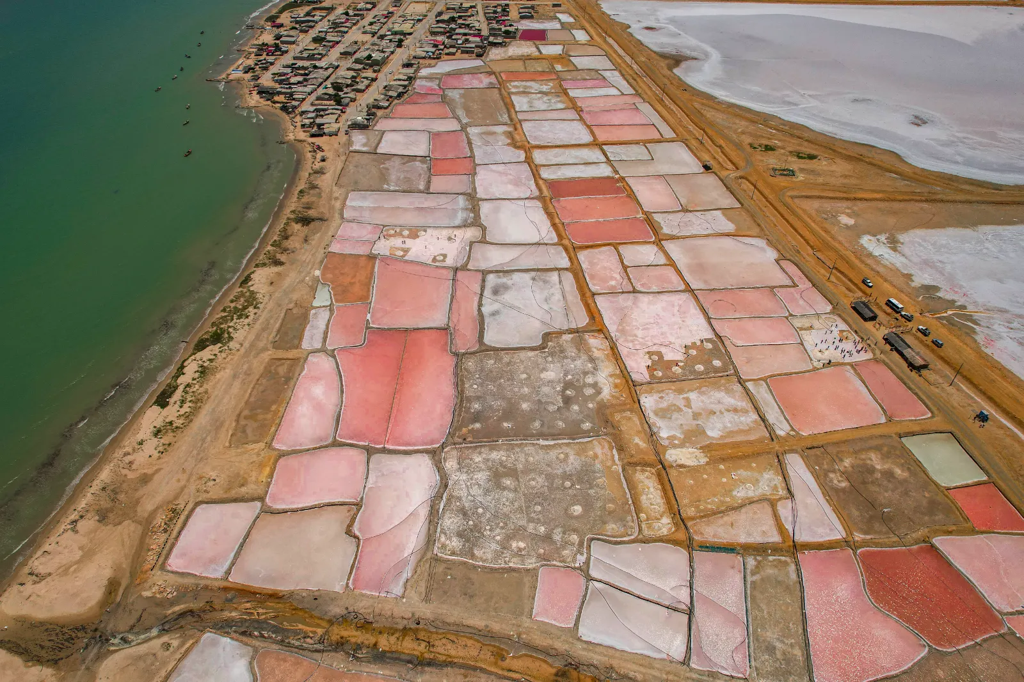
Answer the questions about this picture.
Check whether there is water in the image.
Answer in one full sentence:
Yes, the picture does contain water.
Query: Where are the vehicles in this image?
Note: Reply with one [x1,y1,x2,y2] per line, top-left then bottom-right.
[886,299,906,314]
[917,326,933,337]
[862,279,874,289]
[931,339,946,349]
[900,312,915,322]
